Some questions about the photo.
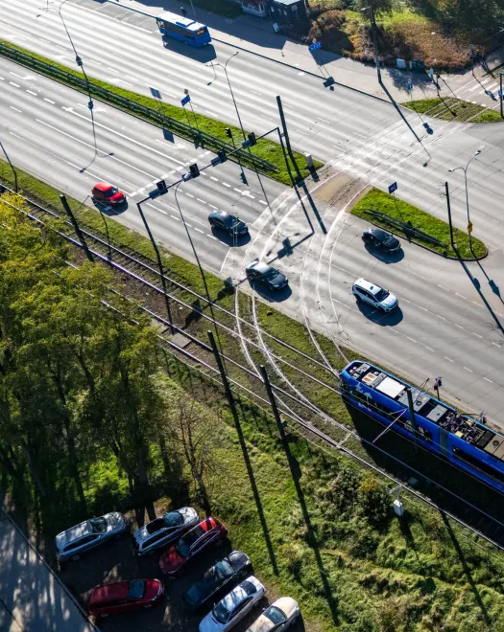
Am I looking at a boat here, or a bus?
bus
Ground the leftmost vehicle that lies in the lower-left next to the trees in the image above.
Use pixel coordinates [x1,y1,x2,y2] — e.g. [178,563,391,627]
[57,517,126,562]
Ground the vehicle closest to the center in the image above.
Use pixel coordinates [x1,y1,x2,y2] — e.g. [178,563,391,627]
[246,263,289,293]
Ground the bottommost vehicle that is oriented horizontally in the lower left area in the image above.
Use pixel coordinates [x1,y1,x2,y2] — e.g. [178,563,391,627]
[92,578,162,620]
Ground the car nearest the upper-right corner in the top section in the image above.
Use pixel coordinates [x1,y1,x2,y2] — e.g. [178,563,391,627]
[361,227,401,254]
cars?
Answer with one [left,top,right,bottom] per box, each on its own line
[352,278,398,312]
[201,577,265,632]
[361,227,401,254]
[209,212,248,238]
[91,183,125,207]
[246,263,289,293]
[164,519,227,575]
[92,578,162,620]
[130,509,202,556]
[182,552,254,611]
[57,517,126,562]
[247,601,300,632]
